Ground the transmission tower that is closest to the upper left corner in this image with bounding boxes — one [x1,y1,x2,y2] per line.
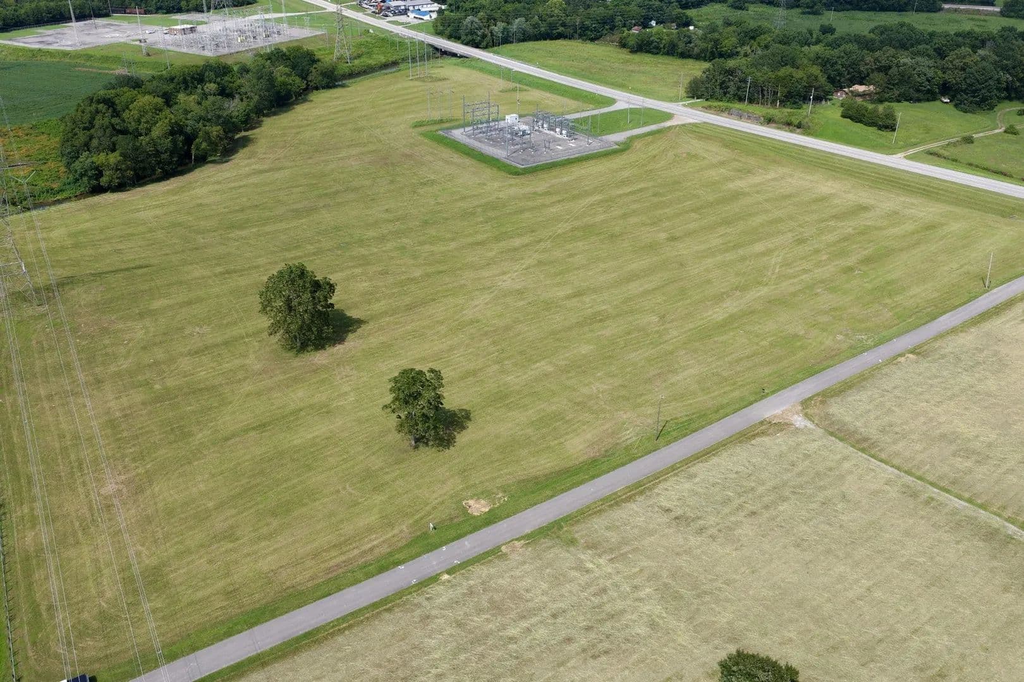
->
[62,0,82,44]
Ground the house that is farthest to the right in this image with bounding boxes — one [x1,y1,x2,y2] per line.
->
[835,82,871,97]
